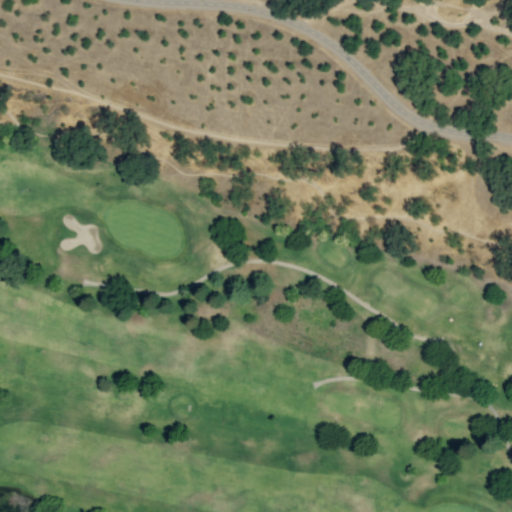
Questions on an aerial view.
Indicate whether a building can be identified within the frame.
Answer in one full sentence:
No, there appears to be no building in this shot.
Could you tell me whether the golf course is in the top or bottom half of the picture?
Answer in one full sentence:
Seen from above, the golf course lies in the bottom half of the view.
